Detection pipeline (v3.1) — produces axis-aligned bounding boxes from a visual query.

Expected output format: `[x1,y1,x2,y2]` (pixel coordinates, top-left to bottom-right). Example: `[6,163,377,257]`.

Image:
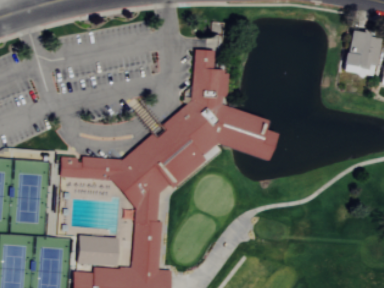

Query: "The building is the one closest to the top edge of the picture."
[346,31,384,78]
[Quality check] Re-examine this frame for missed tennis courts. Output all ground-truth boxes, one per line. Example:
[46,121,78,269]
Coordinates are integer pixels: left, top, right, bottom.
[32,236,72,288]
[0,158,14,232]
[10,160,50,234]
[0,235,35,288]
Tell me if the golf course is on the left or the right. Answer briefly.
right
